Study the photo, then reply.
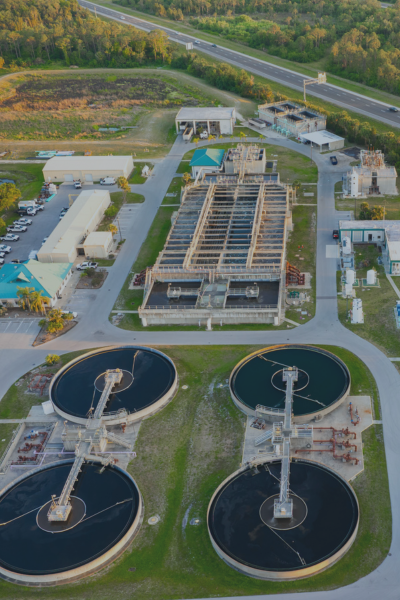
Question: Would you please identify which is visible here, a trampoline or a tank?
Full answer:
I can see a tank in this picture.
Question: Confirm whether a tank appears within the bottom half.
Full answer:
Yes, a tank can be seen within the bottom half.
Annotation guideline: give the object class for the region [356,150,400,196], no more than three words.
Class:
building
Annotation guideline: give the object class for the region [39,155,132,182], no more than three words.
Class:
building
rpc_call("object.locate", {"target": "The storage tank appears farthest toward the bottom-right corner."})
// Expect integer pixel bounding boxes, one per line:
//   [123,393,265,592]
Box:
[205,462,361,585]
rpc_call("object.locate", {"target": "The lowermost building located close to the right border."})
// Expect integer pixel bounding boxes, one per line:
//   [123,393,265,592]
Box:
[337,220,400,275]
